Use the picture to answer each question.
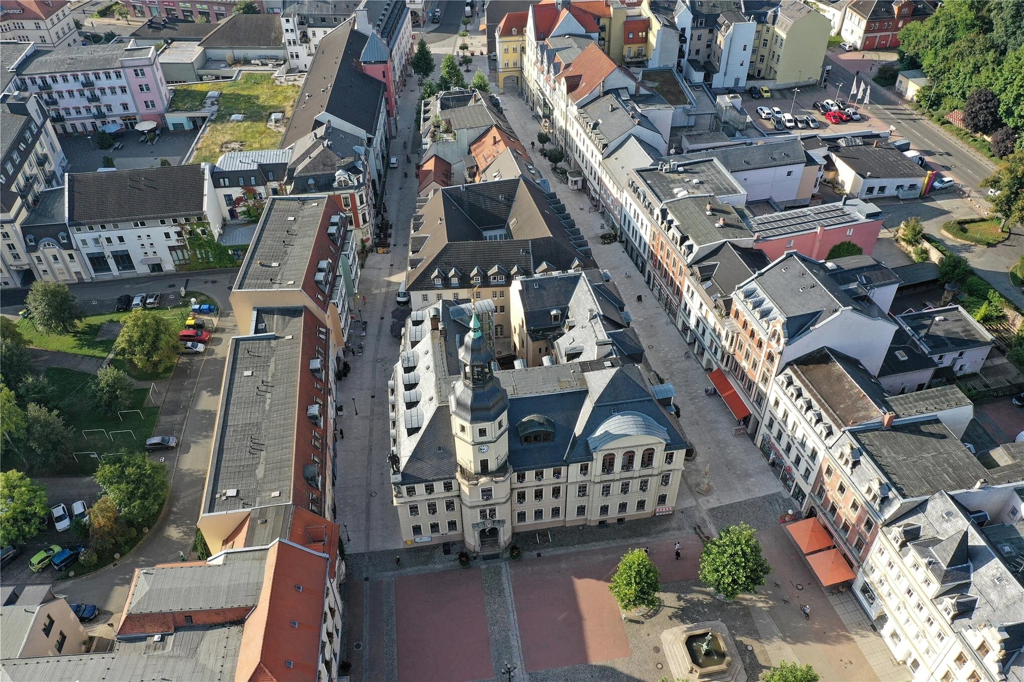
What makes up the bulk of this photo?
buildings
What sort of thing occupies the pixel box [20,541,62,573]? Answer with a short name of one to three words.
car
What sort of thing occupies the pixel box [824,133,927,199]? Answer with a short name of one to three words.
building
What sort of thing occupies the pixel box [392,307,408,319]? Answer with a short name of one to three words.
umbrella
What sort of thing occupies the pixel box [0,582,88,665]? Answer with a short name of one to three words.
house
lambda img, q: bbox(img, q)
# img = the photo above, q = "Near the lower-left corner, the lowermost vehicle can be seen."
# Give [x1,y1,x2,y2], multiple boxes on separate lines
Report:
[65,597,103,619]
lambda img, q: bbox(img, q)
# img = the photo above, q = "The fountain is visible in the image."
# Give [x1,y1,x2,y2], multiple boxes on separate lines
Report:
[663,612,752,682]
